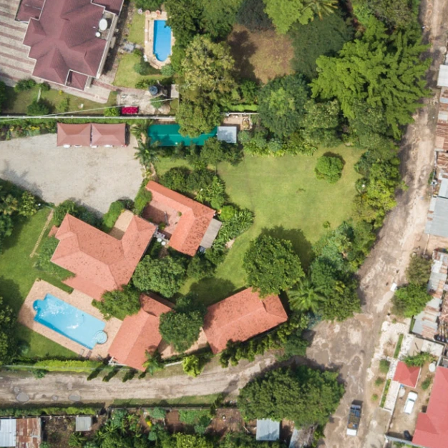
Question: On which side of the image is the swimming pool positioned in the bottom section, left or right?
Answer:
left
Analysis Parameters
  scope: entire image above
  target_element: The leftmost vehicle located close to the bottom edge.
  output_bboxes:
[345,400,361,434]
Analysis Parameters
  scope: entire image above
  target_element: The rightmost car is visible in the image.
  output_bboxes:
[403,390,419,414]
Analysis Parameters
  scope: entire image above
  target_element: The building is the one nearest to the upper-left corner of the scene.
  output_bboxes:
[14,0,127,91]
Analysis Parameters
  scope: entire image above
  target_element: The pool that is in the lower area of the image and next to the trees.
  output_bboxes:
[29,292,108,353]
